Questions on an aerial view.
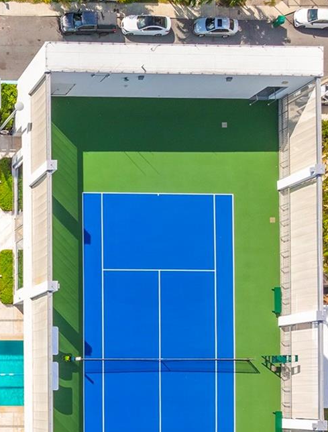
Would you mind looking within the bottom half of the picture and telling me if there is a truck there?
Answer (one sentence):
No, there is no truck within the bottom half of the picture.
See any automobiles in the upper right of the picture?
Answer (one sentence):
Yes, an automobile is visible in the upper right of the picture.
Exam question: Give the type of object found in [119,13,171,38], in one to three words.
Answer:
car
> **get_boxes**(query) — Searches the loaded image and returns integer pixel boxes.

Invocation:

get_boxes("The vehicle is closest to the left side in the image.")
[58,8,117,36]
